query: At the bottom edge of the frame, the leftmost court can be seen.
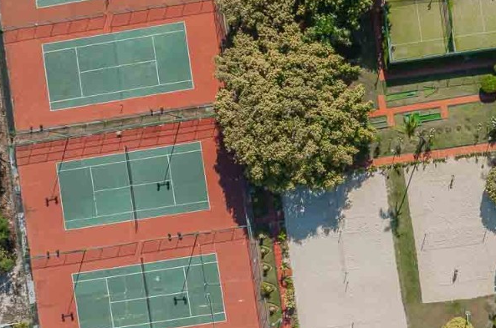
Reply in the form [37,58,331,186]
[32,226,261,328]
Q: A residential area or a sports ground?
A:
sports ground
